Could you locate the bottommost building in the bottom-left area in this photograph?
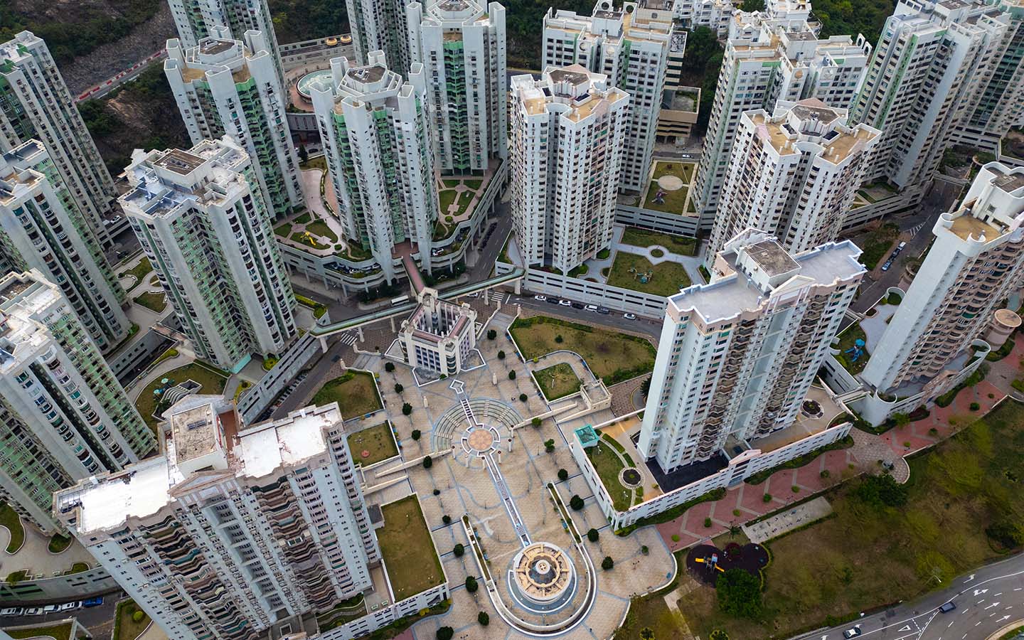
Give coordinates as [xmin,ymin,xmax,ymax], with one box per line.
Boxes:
[51,403,383,640]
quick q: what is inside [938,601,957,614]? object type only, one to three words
vehicle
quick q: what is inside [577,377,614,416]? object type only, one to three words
building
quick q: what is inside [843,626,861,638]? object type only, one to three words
vehicle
